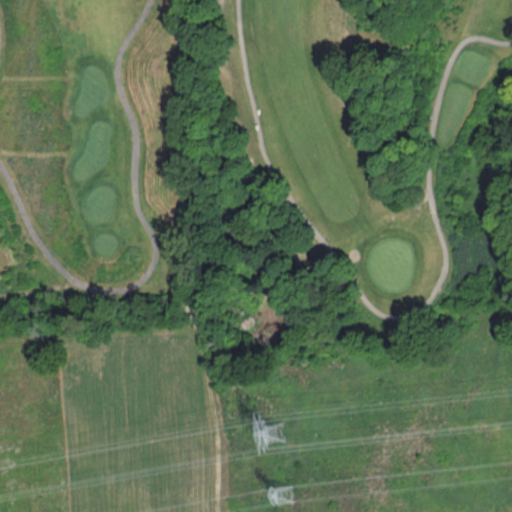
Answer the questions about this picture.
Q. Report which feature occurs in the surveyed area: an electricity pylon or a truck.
electricity pylon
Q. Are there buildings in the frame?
No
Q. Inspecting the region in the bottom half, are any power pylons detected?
Yes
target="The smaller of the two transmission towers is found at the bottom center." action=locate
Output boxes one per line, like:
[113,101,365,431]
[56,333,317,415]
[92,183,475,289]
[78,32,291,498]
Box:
[268,486,294,508]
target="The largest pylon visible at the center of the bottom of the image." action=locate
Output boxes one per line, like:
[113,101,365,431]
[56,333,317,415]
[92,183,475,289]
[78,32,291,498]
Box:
[253,418,286,458]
